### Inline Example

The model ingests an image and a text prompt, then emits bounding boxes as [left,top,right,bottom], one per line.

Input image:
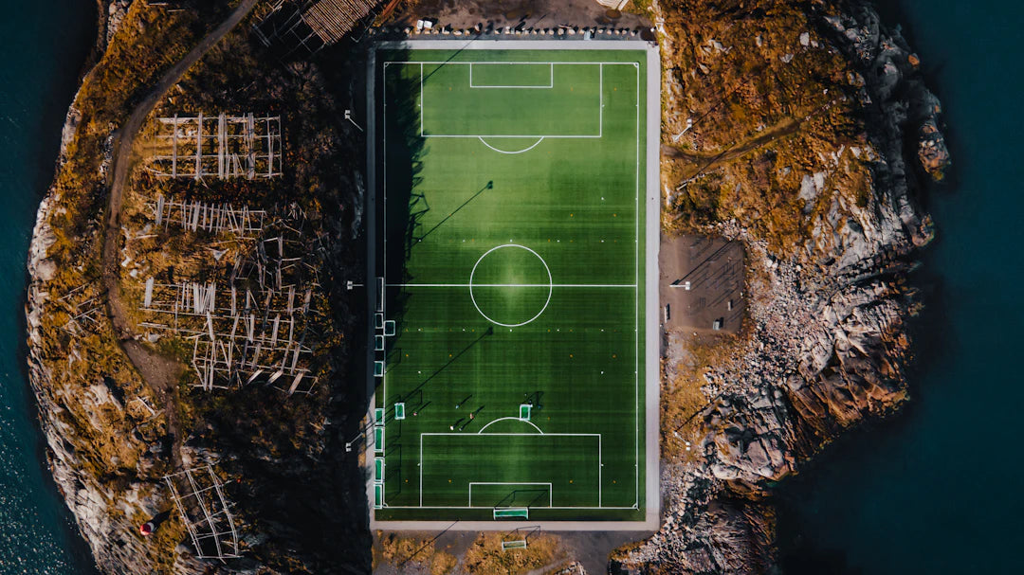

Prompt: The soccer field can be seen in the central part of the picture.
[376,49,647,521]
